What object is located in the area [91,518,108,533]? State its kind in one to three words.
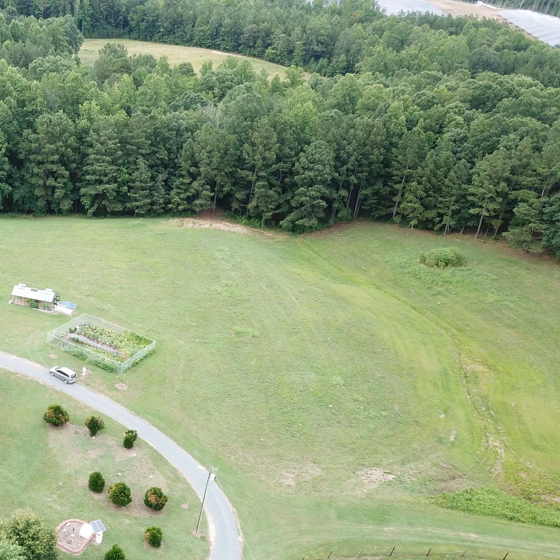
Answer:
solar array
